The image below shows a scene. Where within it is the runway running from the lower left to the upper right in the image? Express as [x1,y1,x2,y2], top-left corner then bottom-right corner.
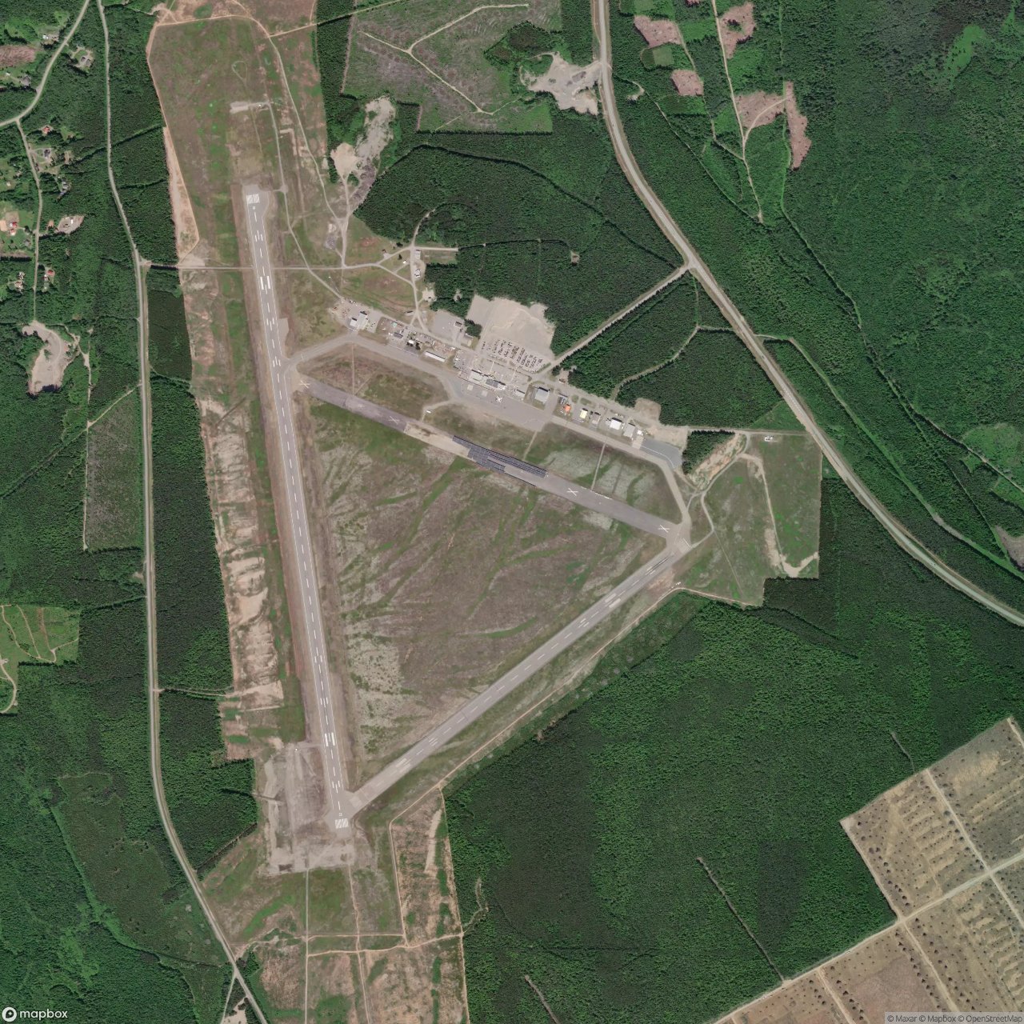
[352,538,690,810]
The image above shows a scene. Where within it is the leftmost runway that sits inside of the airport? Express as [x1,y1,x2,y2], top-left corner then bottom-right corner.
[243,185,358,838]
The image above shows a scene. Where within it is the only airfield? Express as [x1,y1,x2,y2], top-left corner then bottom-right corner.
[243,185,693,838]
